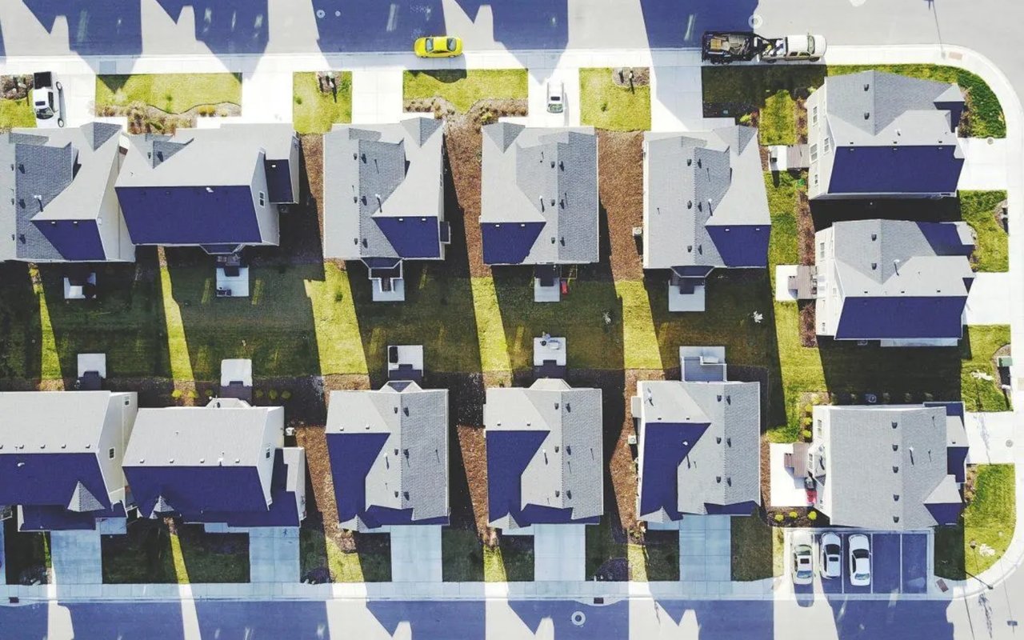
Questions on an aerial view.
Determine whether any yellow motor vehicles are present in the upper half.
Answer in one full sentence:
Yes, a yellow motor vehicle shows up in the upper half.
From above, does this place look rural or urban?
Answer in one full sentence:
The area shown here is urban.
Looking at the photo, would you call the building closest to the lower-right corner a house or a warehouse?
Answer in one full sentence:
The building closest to the lower-right corner is a house.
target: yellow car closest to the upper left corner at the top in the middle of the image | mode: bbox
[415,36,463,60]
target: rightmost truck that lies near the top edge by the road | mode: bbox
[759,32,825,59]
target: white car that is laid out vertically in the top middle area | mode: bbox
[544,78,567,129]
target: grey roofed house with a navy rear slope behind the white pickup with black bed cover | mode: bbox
[0,119,136,263]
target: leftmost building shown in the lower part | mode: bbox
[0,388,137,531]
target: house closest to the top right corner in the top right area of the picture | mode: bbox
[807,70,963,199]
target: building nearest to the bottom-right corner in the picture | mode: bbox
[804,399,967,529]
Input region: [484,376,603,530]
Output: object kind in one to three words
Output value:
house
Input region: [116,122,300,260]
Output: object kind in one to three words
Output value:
house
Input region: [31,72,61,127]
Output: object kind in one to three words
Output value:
truck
